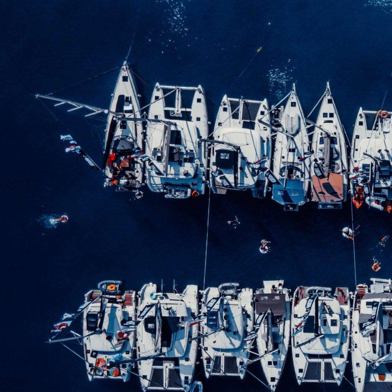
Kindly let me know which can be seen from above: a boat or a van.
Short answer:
boat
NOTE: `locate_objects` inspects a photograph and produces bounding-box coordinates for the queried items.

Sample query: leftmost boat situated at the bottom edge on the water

[48,291,140,382]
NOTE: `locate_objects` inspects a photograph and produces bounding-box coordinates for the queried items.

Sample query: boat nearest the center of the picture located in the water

[164,185,191,198]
